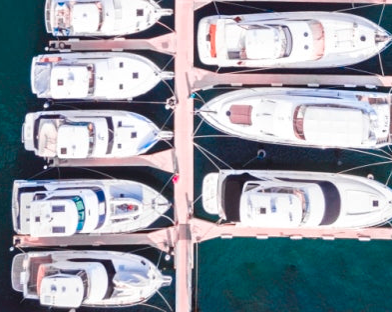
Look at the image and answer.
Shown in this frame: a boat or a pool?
boat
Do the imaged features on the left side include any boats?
Yes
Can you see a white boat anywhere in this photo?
Yes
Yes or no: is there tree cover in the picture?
No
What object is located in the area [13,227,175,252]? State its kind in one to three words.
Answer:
pier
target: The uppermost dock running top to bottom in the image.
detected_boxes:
[174,2,194,269]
